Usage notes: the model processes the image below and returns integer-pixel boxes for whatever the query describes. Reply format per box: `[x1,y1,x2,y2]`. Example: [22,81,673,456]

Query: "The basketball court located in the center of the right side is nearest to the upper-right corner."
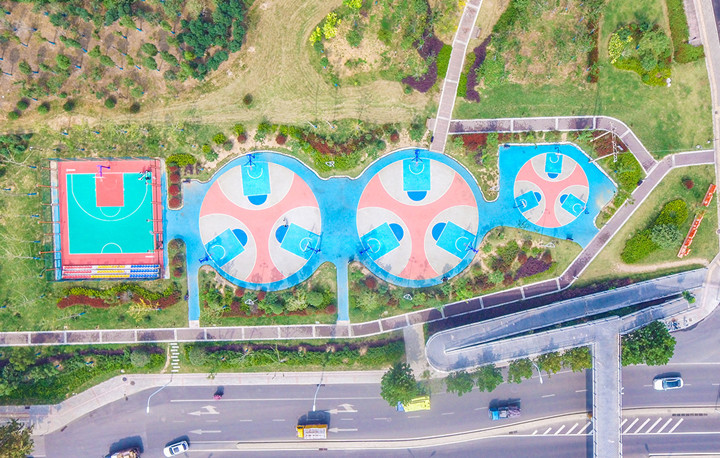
[513,151,590,228]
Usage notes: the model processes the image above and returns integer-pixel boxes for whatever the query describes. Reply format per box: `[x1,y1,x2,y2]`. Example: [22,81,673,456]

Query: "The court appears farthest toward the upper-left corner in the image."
[51,160,168,281]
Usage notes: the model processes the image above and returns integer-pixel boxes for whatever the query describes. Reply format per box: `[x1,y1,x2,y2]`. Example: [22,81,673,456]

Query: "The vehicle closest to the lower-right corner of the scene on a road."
[653,377,683,392]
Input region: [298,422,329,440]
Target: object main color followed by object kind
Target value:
white vehicle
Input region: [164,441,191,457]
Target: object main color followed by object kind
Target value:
white car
